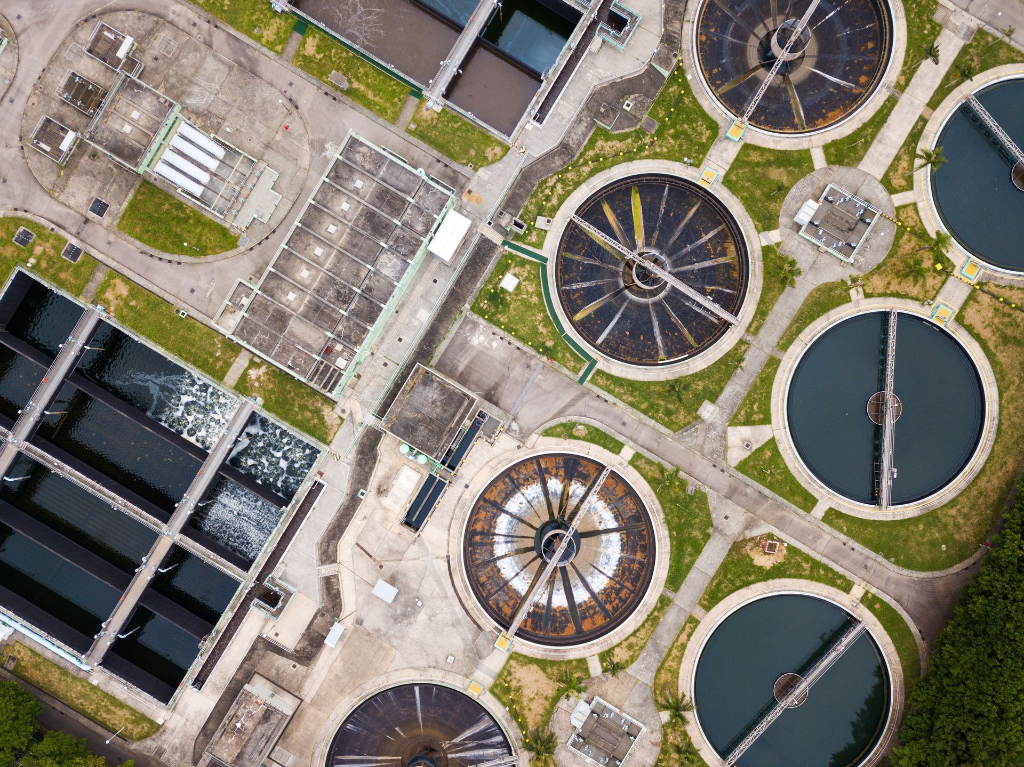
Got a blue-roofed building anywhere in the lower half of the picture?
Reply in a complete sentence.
No, in the lower half of the picture there is no blue-roofed building.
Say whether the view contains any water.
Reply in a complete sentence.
Yes, there is water in the image.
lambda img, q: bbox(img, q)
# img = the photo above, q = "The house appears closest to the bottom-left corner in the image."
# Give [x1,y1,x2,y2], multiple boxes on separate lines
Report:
[197,681,294,767]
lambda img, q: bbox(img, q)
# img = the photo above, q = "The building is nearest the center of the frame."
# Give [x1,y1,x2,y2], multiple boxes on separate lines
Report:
[379,362,477,463]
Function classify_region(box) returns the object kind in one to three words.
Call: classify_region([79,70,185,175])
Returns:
house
